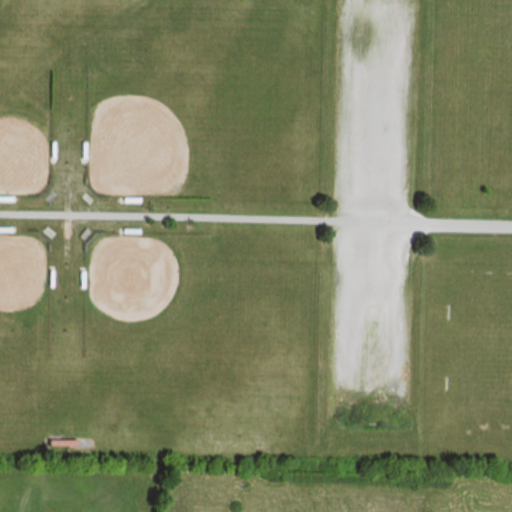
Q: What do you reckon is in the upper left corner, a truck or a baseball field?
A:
baseball field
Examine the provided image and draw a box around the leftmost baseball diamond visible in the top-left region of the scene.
[0,76,52,198]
